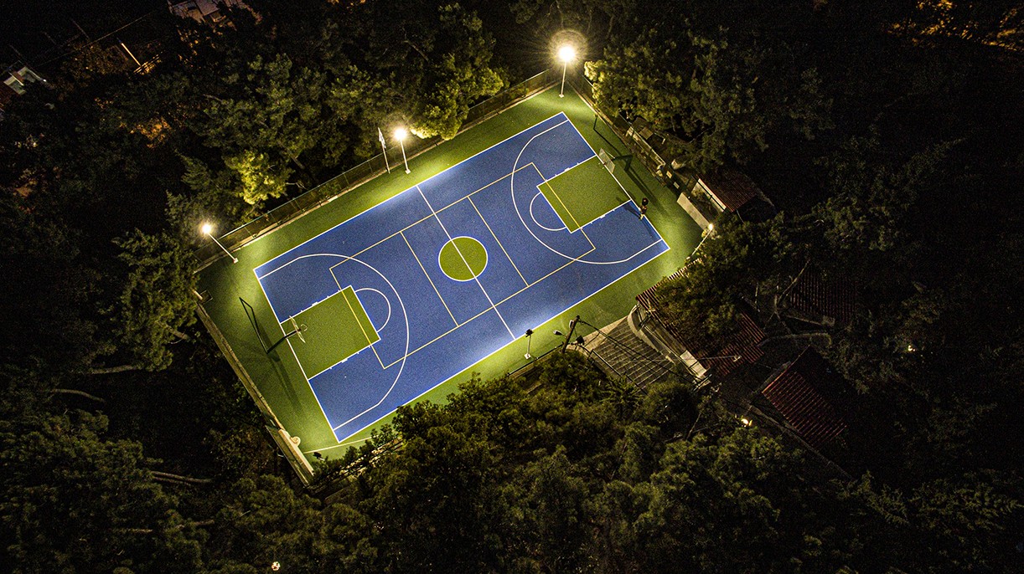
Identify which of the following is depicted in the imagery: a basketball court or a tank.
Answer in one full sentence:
There is a basketball court in the scene.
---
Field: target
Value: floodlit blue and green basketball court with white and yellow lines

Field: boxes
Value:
[194,82,707,489]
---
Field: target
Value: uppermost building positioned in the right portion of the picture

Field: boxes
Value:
[688,148,780,222]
